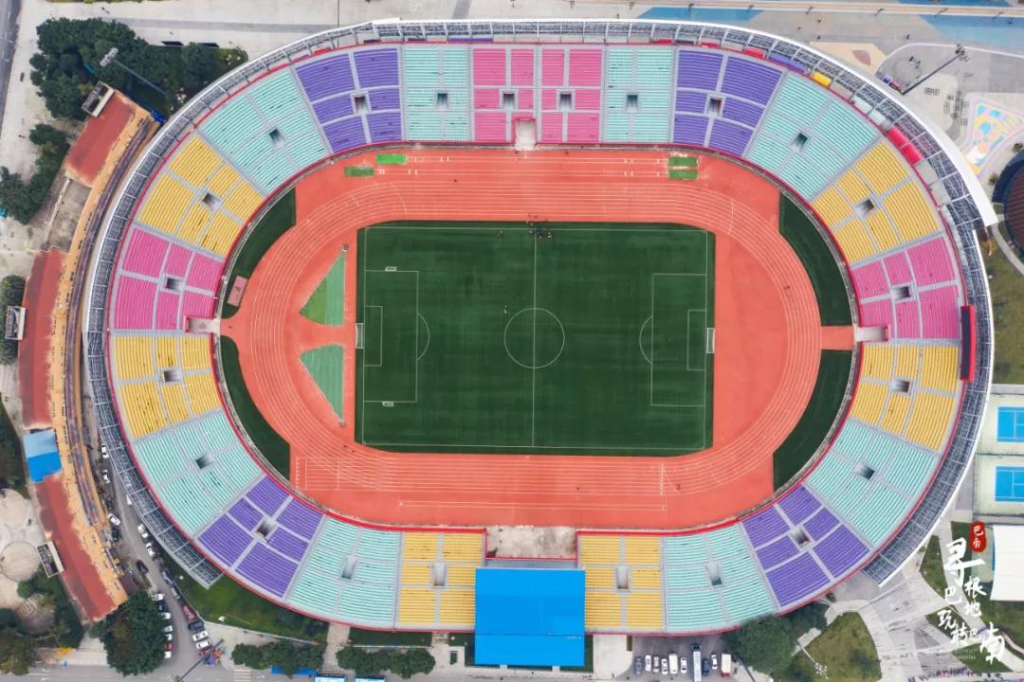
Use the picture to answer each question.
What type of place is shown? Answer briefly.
sports ground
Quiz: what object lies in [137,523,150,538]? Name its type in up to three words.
vehicle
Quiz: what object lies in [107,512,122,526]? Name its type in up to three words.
car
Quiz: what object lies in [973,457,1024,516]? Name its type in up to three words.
tennis court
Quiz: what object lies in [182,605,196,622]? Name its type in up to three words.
vehicle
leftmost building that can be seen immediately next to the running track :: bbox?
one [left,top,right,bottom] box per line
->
[5,81,159,623]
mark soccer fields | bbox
[356,220,715,455]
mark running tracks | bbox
[219,149,854,528]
